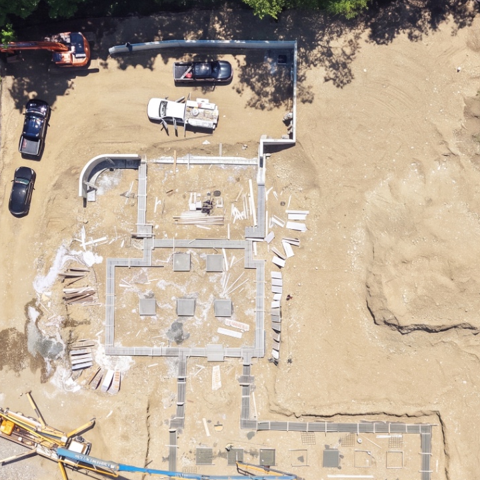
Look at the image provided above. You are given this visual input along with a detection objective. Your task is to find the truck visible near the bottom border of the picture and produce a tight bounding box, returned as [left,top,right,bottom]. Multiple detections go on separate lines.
[0,389,299,480]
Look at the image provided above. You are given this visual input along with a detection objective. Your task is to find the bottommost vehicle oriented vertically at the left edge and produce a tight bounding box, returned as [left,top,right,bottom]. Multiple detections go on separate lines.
[7,165,34,216]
